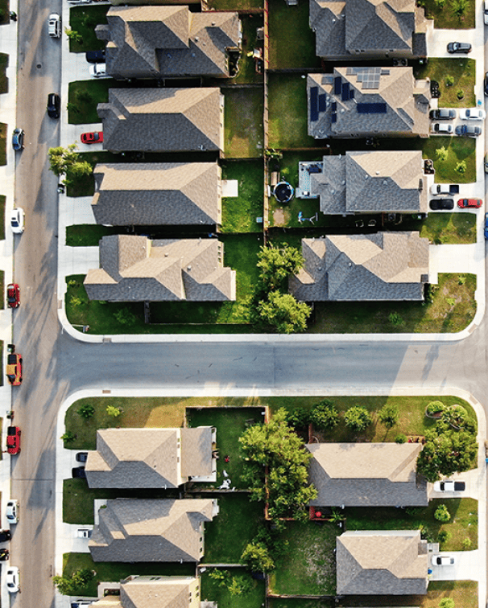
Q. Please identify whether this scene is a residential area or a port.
residential area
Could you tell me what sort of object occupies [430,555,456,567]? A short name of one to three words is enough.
vehicle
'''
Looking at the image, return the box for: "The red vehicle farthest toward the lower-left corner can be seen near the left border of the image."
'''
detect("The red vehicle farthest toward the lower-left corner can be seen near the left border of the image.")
[6,425,23,456]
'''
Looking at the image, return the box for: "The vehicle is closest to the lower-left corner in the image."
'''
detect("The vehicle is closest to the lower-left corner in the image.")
[6,567,21,593]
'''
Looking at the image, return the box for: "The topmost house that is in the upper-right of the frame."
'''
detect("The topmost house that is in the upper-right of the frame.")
[309,0,427,60]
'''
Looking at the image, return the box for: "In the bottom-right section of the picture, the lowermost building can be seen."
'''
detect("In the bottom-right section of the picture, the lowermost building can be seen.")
[336,531,428,595]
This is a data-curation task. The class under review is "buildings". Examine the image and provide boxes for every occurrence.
[96,5,241,82]
[310,150,428,216]
[309,0,427,60]
[91,162,221,225]
[288,232,429,302]
[336,531,428,595]
[98,88,223,153]
[83,428,215,488]
[84,234,234,301]
[89,498,217,563]
[88,578,200,608]
[307,66,430,140]
[305,443,428,507]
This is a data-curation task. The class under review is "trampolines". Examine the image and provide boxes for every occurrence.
[272,179,294,201]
